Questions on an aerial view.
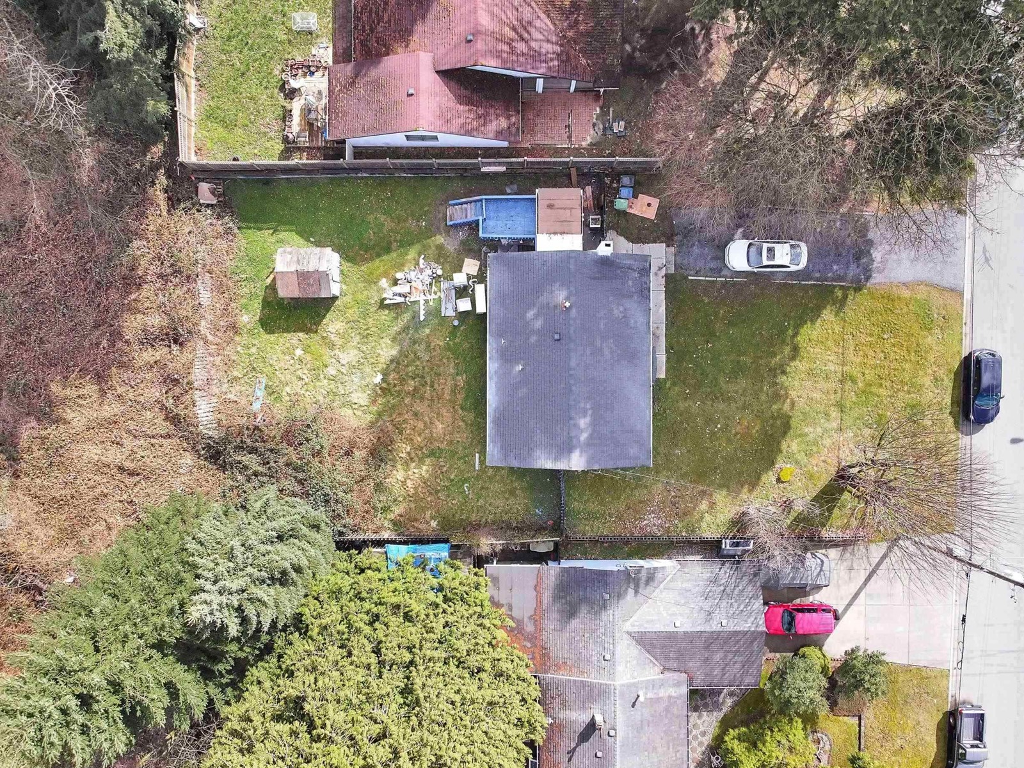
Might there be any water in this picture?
No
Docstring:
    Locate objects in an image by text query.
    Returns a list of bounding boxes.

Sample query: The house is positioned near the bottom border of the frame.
[530,550,765,768]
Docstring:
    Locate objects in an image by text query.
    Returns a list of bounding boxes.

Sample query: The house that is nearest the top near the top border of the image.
[326,0,623,160]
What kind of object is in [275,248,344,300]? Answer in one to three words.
shed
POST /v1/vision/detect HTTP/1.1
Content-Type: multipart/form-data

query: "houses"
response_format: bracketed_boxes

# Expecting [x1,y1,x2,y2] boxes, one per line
[326,0,623,160]
[484,239,654,472]
[530,550,765,768]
